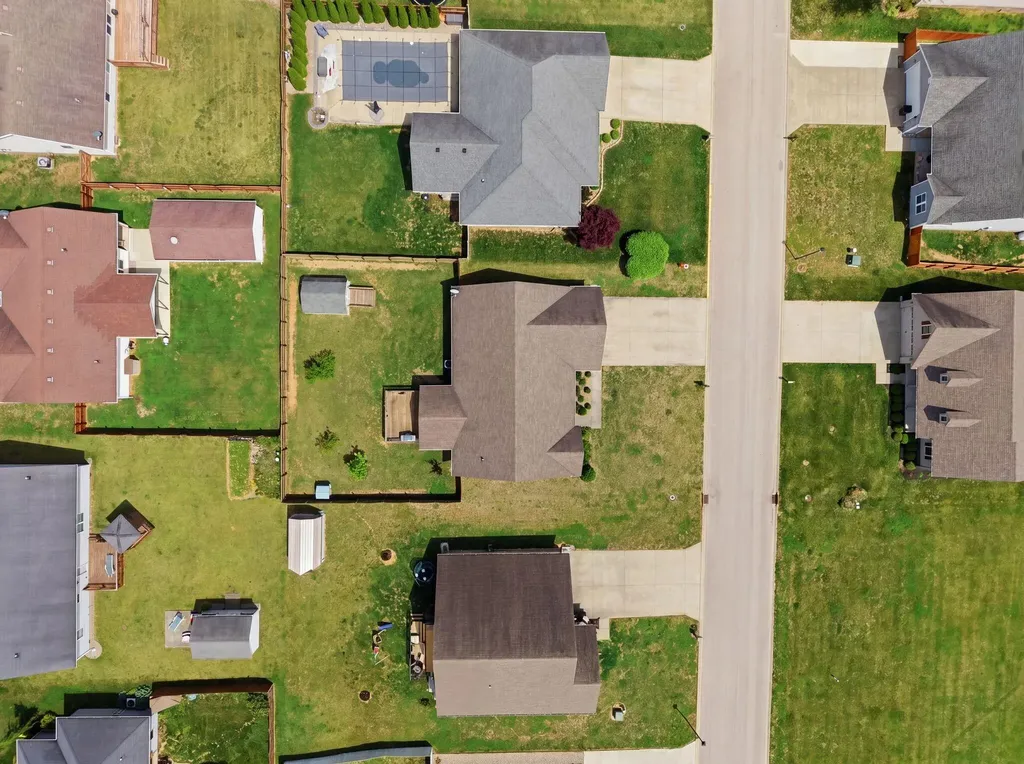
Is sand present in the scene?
No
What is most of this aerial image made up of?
grass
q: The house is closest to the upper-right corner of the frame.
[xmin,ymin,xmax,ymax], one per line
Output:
[905,30,1024,229]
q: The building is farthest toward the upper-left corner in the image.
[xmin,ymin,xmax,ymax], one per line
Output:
[0,0,122,147]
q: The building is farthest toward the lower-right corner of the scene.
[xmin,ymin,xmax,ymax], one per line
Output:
[894,290,1024,482]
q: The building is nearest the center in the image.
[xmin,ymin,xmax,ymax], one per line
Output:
[418,282,607,482]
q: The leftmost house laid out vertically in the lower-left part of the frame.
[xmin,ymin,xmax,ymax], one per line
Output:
[0,462,96,677]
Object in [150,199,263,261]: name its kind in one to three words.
building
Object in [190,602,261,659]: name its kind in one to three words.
shed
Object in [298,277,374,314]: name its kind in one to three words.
shed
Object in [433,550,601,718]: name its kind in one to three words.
house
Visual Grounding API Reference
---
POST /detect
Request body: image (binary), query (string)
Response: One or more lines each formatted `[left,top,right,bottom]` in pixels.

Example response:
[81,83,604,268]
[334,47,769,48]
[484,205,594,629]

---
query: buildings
[894,290,1024,482]
[905,30,1024,229]
[150,199,263,261]
[409,28,611,229]
[298,277,374,314]
[289,516,325,575]
[190,602,261,659]
[0,0,122,147]
[0,206,166,403]
[433,550,601,718]
[418,282,607,482]
[15,708,157,764]
[0,462,96,677]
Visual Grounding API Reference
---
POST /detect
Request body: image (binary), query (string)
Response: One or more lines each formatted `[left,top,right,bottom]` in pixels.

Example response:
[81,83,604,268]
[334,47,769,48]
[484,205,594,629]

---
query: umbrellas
[369,102,382,119]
